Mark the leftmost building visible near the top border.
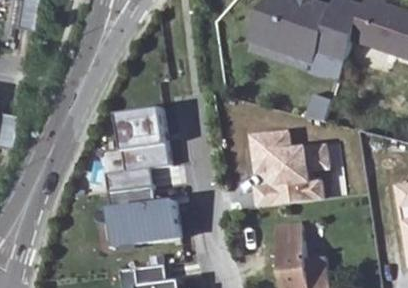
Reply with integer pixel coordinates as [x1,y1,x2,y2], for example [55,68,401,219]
[12,0,40,30]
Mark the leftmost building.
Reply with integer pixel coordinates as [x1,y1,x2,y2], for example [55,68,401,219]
[0,114,18,148]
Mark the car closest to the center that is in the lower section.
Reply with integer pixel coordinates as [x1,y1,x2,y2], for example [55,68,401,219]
[238,172,262,190]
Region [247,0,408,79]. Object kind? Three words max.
house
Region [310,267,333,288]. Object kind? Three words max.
house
